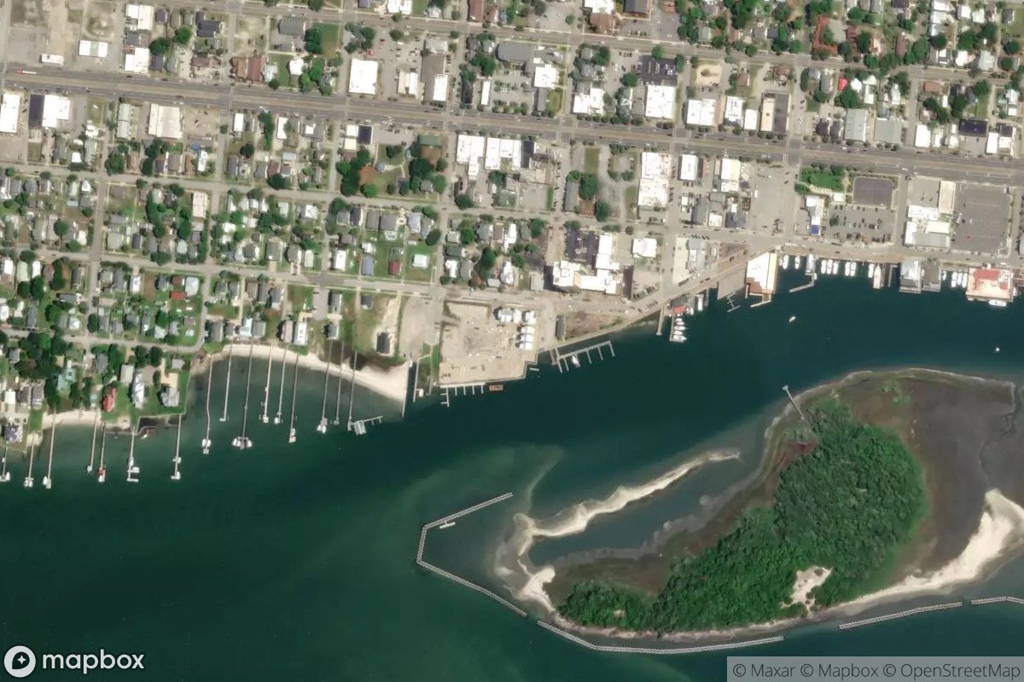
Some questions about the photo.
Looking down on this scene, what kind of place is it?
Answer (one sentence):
This image shows a residential area.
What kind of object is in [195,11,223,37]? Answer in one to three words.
house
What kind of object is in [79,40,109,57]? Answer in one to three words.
building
